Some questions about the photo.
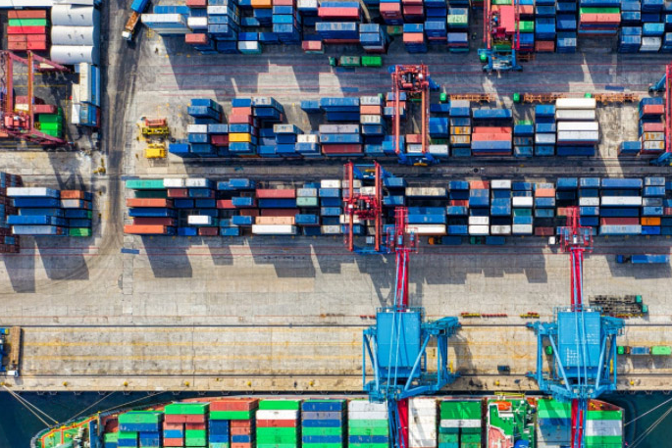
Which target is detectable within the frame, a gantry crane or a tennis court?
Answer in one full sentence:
There is a gantry crane in the scene.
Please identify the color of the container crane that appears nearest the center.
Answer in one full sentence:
In this view, the container crane that appears nearest the center is red.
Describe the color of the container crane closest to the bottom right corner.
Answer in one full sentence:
From above, the container crane closest to the bottom right corner appears blue.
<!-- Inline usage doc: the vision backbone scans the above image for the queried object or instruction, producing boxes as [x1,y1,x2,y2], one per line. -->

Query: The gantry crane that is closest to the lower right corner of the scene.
[523,207,621,448]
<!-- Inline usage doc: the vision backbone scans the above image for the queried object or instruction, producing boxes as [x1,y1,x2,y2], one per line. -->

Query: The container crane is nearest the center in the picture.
[343,162,396,252]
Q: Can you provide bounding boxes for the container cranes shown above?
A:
[482,0,522,67]
[2,49,82,149]
[343,162,396,252]
[360,207,464,448]
[523,207,621,448]
[651,57,672,161]
[392,62,440,162]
